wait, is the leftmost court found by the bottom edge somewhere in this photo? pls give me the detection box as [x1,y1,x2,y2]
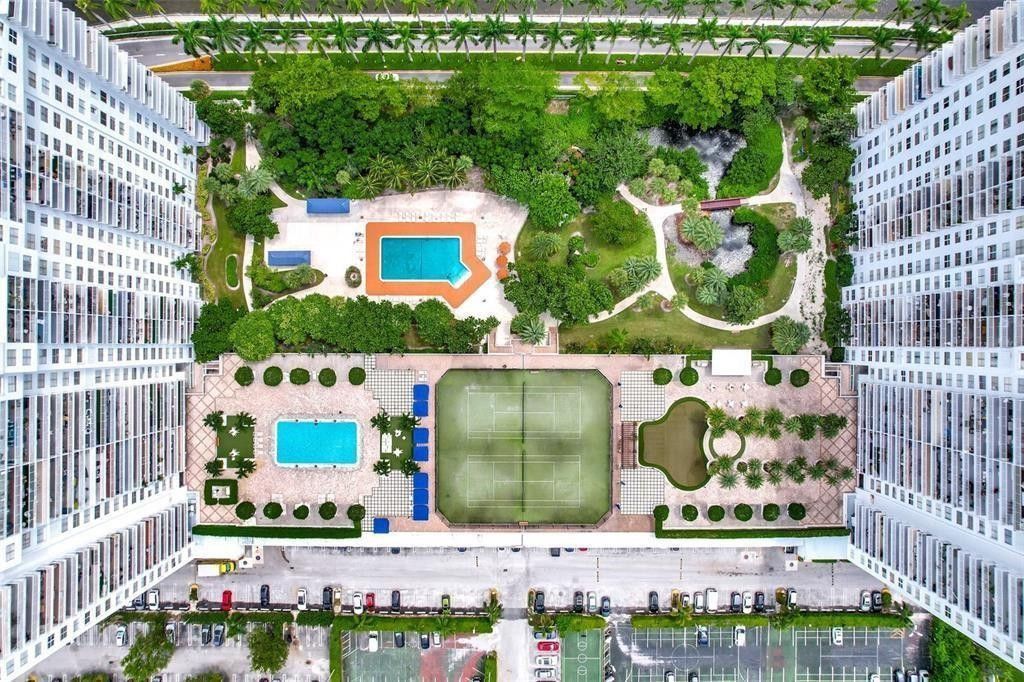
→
[561,627,604,682]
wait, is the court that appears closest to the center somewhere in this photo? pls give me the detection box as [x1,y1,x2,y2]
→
[434,369,614,529]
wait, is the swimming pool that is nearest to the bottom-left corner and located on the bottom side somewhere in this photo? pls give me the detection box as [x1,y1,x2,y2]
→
[268,413,365,473]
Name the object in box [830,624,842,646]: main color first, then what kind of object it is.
white vehicle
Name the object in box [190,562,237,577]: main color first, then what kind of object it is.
white vehicle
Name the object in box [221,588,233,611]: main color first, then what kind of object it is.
red vehicle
